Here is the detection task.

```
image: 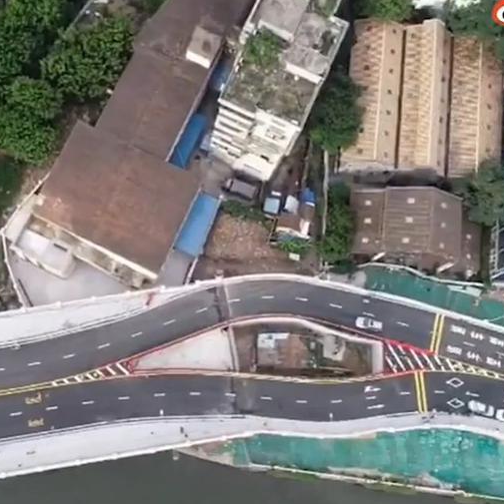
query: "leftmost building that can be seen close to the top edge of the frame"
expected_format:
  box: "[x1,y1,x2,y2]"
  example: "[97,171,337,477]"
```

[94,0,260,172]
